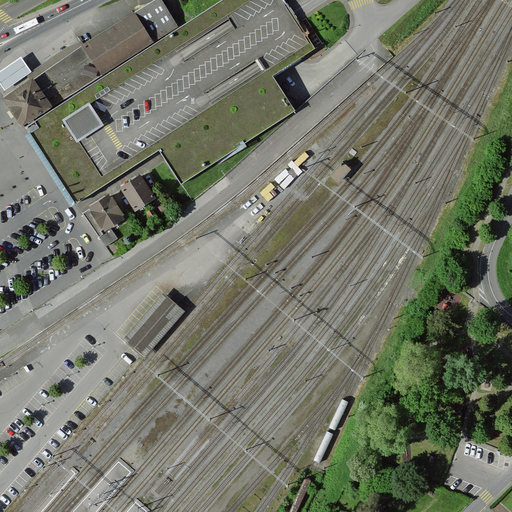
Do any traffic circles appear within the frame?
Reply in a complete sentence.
No, this view has no traffic circle in it.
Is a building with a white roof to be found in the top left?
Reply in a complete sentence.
Yes, looking in the top left, one can make out a building with a white roof.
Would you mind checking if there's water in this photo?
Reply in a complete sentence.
No, there is no water in the image.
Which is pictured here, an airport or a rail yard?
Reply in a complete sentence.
The area seen from above is a rail yard.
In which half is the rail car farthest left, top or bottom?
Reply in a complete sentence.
The rail car farthest left is in the bottom half of the image.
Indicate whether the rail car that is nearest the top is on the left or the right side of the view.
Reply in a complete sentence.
You can find the rail car that is nearest the top on the right side of the picture.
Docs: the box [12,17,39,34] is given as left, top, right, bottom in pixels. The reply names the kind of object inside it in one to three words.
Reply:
vehicle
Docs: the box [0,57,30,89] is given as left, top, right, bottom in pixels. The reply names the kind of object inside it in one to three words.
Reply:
building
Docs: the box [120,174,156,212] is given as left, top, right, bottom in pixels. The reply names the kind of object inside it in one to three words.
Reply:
house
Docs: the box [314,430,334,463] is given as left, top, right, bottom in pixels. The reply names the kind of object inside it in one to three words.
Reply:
rail car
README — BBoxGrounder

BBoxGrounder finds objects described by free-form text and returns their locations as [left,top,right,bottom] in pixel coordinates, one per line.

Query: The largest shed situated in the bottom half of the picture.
[122,294,186,358]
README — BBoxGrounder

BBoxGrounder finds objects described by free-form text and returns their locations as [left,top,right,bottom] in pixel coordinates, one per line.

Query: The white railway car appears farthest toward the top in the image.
[330,398,349,431]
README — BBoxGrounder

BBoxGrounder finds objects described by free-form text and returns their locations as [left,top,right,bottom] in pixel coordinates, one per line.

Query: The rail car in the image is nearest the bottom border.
[288,476,312,512]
